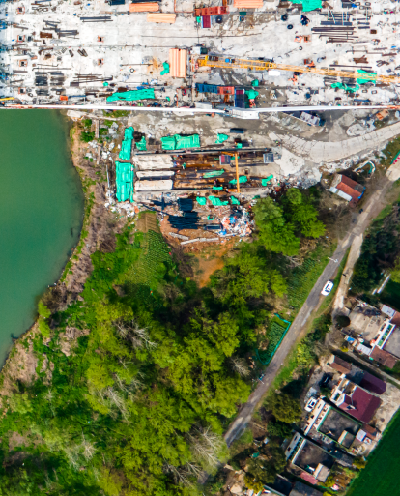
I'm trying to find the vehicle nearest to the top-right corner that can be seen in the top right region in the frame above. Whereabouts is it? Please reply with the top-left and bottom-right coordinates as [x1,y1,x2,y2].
[295,109,322,127]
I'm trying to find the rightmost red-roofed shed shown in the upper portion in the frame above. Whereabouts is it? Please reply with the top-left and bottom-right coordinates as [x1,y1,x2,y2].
[328,174,364,200]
